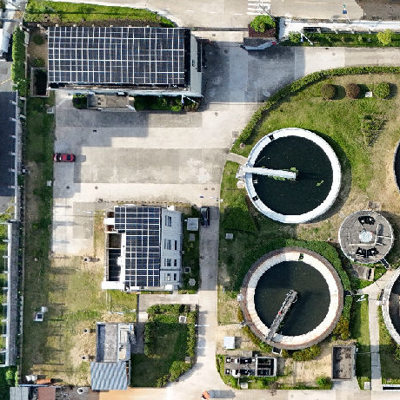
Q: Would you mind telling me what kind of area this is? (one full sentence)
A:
This looks like an industrial area.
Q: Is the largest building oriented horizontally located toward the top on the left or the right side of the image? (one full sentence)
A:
The largest building oriented horizontally located toward the top is on the left side of the image.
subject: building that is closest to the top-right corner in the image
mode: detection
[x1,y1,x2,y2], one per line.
[241,23,283,53]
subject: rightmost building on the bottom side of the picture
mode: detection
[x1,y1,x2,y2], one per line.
[226,350,278,386]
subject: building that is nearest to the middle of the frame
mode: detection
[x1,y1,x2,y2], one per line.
[101,202,183,293]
